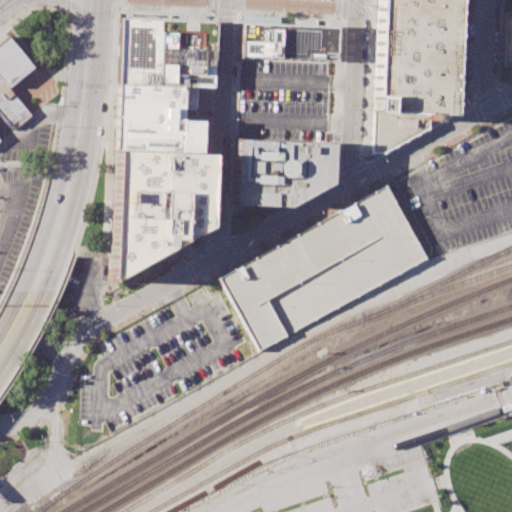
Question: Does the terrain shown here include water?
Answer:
No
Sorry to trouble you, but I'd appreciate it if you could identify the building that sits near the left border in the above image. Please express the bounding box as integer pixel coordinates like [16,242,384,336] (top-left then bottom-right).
[0,38,36,128]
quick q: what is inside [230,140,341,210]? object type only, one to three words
building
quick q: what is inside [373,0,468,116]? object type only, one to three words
building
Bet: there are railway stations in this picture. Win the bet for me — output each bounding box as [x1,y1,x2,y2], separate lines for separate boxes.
[258,347,512,450]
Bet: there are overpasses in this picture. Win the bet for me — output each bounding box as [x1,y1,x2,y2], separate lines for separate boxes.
[0,257,79,400]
